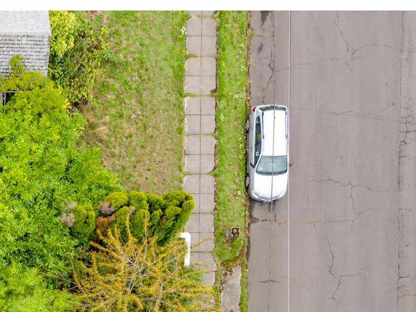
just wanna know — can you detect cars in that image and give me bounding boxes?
[243,104,294,202]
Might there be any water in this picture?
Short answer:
No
